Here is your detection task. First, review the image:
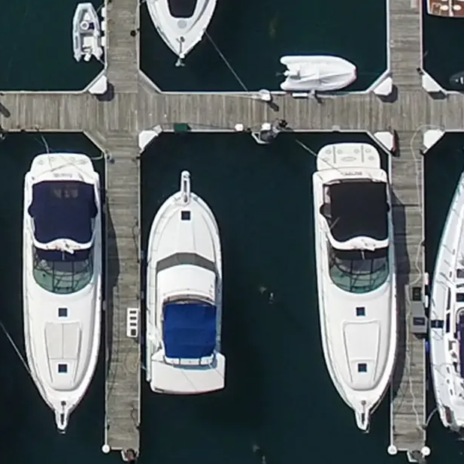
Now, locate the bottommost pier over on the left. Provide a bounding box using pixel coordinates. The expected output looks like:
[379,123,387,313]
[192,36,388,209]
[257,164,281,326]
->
[83,130,161,458]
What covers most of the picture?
water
